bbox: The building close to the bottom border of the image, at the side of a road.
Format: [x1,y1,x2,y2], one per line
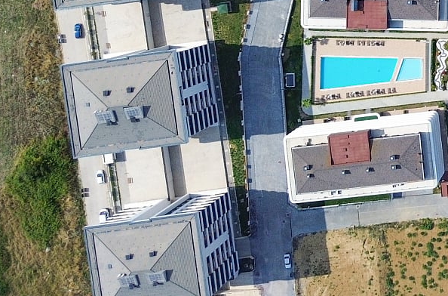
[85,192,239,296]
